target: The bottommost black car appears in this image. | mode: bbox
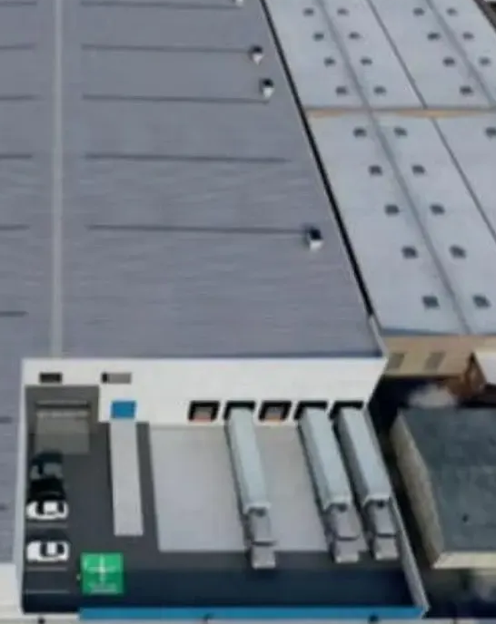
[24,475,64,497]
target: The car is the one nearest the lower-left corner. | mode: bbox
[26,539,69,562]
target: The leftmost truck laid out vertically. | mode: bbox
[228,407,279,568]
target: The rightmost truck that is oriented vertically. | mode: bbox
[334,407,400,567]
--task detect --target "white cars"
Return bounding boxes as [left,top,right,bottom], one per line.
[26,539,69,562]
[26,499,67,521]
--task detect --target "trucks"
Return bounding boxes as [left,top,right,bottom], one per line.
[334,407,400,567]
[228,407,279,568]
[299,407,360,567]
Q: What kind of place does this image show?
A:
industrial area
